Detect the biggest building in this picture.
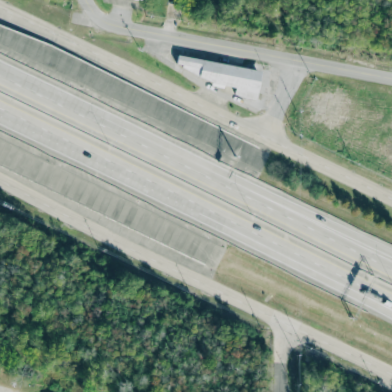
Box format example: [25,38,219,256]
[178,56,262,98]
